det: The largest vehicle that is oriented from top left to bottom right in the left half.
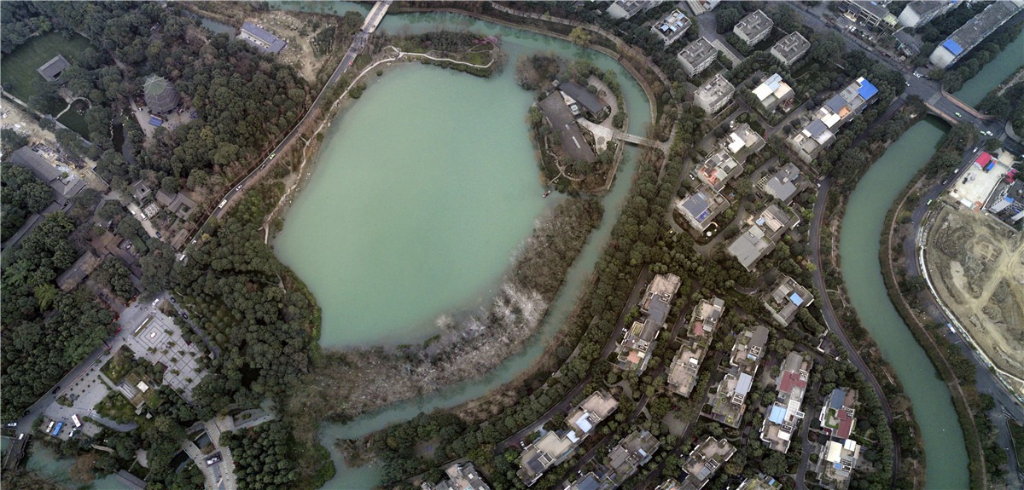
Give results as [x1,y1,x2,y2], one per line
[68,412,82,429]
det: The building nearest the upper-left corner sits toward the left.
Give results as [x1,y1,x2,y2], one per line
[36,53,73,85]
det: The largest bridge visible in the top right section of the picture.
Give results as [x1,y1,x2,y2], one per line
[921,85,989,128]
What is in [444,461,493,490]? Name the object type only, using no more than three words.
house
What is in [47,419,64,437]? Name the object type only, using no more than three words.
vehicle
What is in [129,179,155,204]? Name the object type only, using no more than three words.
building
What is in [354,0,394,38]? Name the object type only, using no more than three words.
bridge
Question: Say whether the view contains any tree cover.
Yes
